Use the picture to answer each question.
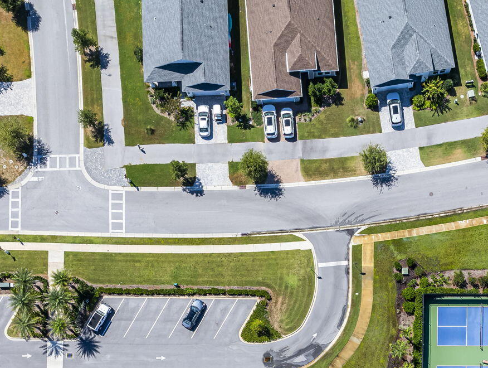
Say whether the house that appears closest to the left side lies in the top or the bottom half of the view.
top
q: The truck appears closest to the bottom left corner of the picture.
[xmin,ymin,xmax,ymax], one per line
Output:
[87,302,114,335]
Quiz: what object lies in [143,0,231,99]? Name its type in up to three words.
house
